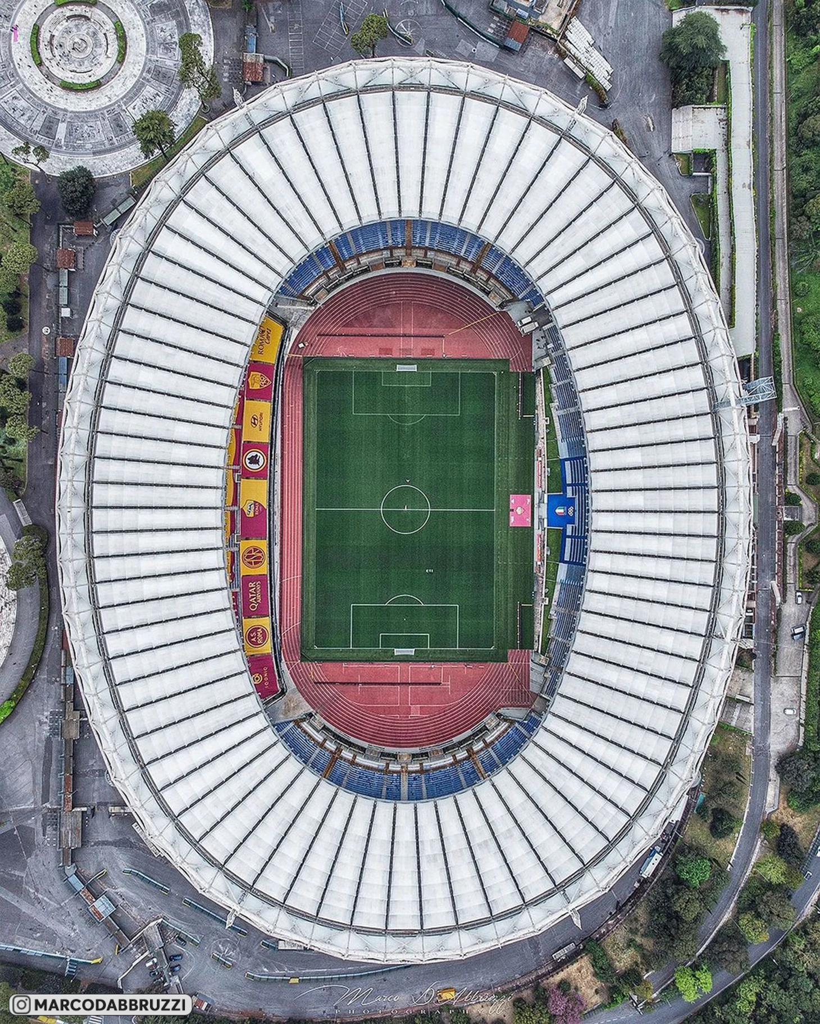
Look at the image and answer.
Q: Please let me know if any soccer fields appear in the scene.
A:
Yes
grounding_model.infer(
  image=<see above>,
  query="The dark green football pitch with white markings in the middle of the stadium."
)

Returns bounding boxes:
[302,358,534,663]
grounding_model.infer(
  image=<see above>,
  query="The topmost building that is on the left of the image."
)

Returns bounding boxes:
[242,53,265,86]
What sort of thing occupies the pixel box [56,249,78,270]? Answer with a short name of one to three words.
building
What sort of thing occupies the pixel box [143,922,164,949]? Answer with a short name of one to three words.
building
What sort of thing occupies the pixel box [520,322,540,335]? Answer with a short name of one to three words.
vehicle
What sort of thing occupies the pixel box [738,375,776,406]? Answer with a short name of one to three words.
bridge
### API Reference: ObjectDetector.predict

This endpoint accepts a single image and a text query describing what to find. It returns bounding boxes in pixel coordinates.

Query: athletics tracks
[281,273,537,748]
